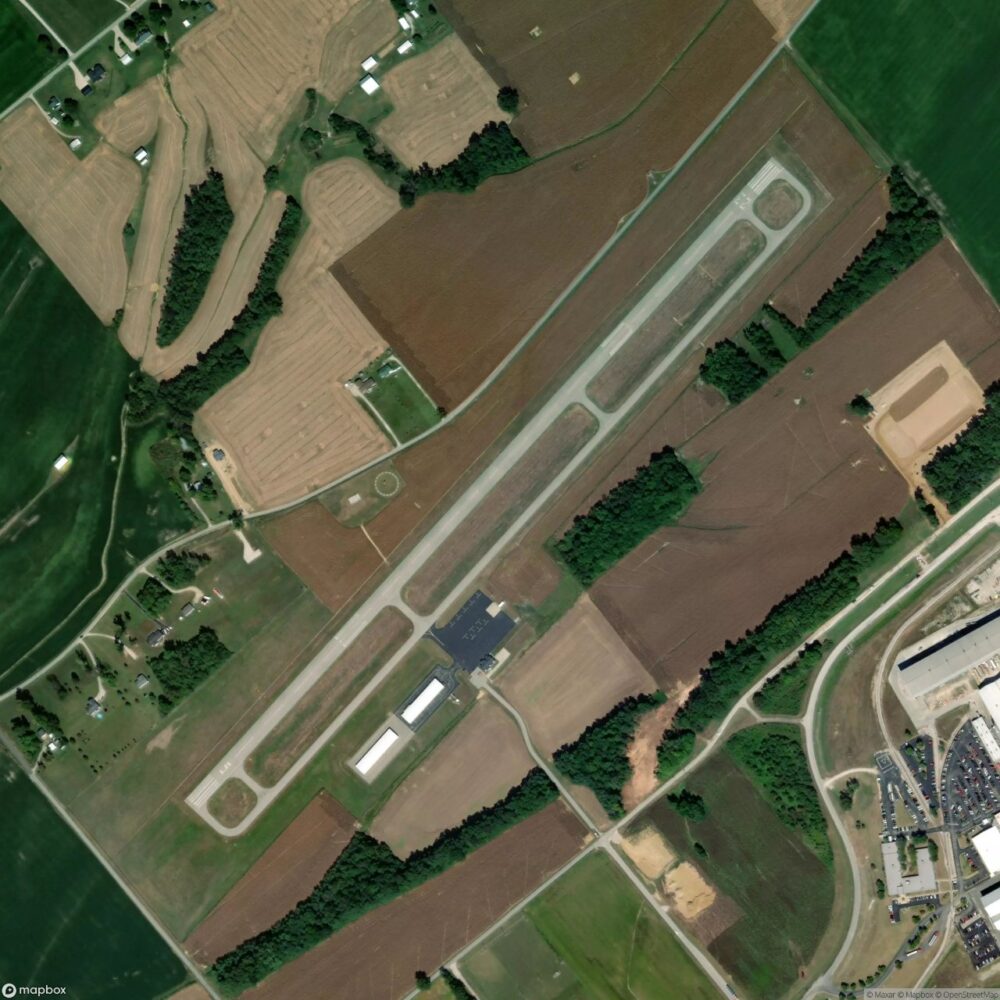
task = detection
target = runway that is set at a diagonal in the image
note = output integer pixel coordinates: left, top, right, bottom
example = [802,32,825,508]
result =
[185,157,784,812]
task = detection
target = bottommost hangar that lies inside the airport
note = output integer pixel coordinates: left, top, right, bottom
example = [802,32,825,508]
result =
[355,729,398,774]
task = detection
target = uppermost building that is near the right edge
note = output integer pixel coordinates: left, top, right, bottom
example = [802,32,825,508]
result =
[899,618,1000,700]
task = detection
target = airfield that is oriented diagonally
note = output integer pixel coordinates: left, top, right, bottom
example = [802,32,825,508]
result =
[162,131,835,836]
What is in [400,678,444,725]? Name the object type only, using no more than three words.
hangar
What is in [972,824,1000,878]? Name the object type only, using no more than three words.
building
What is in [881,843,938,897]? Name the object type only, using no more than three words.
building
